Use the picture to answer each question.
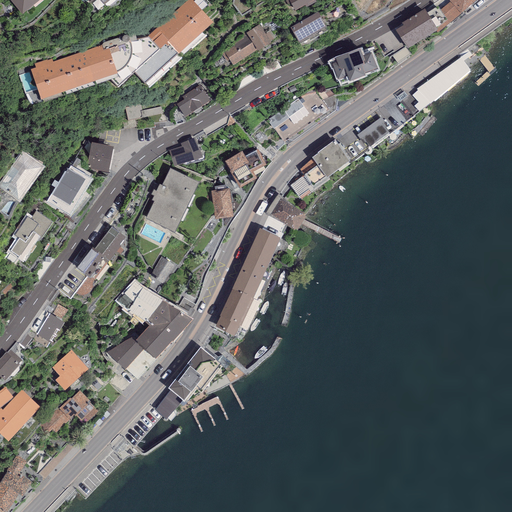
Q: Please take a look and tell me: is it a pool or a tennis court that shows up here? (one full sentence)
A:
There is a pool in the scene.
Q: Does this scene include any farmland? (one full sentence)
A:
No, the scene doesn't show any farmland.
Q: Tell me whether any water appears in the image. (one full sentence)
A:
Yes, there's water in this view.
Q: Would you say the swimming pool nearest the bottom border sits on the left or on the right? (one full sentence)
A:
The swimming pool nearest the bottom border sits on the left side.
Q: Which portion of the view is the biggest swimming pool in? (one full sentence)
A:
The biggest swimming pool sits in the top left section of the image.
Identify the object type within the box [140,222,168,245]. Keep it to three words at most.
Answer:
swimming pool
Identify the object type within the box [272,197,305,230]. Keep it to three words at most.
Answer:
house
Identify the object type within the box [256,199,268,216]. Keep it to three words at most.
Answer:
vehicle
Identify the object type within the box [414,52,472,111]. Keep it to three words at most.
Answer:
building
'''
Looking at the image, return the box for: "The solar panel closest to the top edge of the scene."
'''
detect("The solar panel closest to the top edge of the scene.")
[296,18,326,40]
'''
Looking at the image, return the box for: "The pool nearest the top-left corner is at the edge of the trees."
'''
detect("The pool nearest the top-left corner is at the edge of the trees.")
[18,69,42,104]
